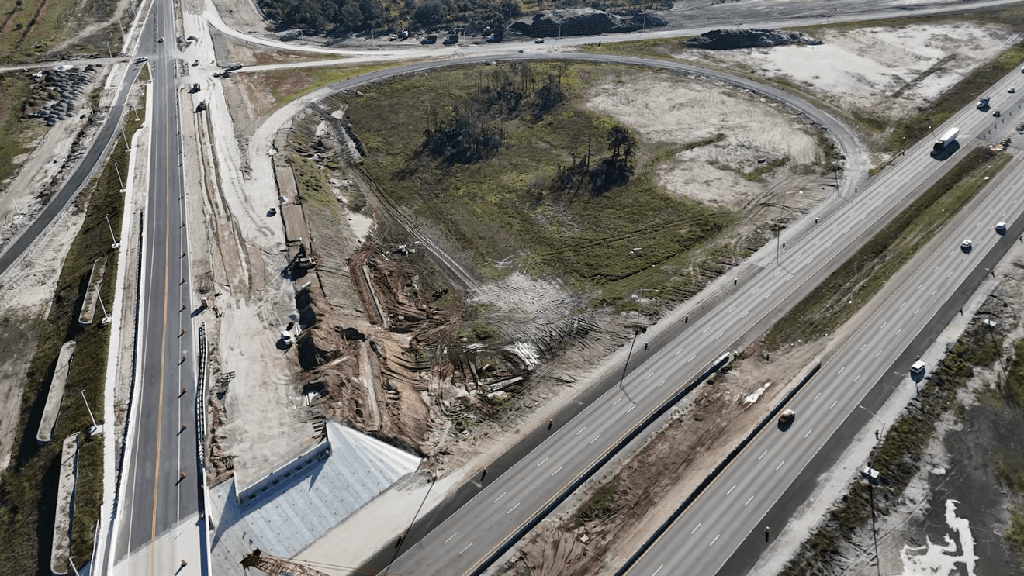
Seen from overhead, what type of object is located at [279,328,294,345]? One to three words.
vehicle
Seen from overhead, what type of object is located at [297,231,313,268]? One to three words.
work vehicle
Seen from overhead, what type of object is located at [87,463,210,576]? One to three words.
bridge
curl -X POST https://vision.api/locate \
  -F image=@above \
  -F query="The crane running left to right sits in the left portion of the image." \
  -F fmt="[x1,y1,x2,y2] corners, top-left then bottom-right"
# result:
[238,554,319,576]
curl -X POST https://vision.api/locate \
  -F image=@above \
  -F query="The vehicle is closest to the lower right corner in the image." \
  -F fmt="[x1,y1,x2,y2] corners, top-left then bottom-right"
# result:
[910,359,928,376]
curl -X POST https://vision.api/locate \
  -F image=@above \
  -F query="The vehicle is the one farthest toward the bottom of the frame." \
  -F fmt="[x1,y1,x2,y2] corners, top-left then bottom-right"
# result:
[775,407,796,426]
